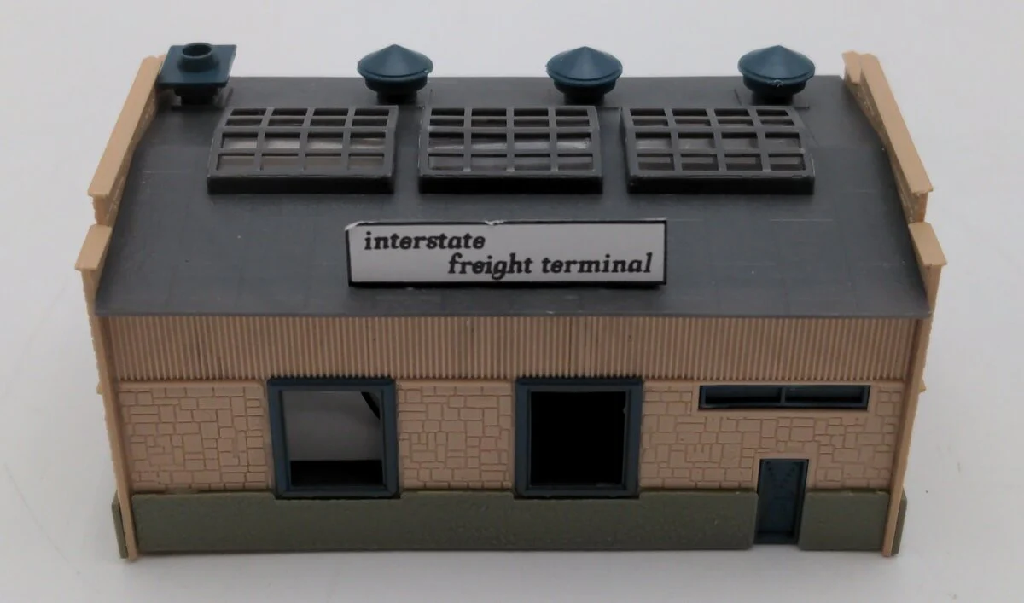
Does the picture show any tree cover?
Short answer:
No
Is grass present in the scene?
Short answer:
No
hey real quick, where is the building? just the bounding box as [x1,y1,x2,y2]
[76,43,945,559]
